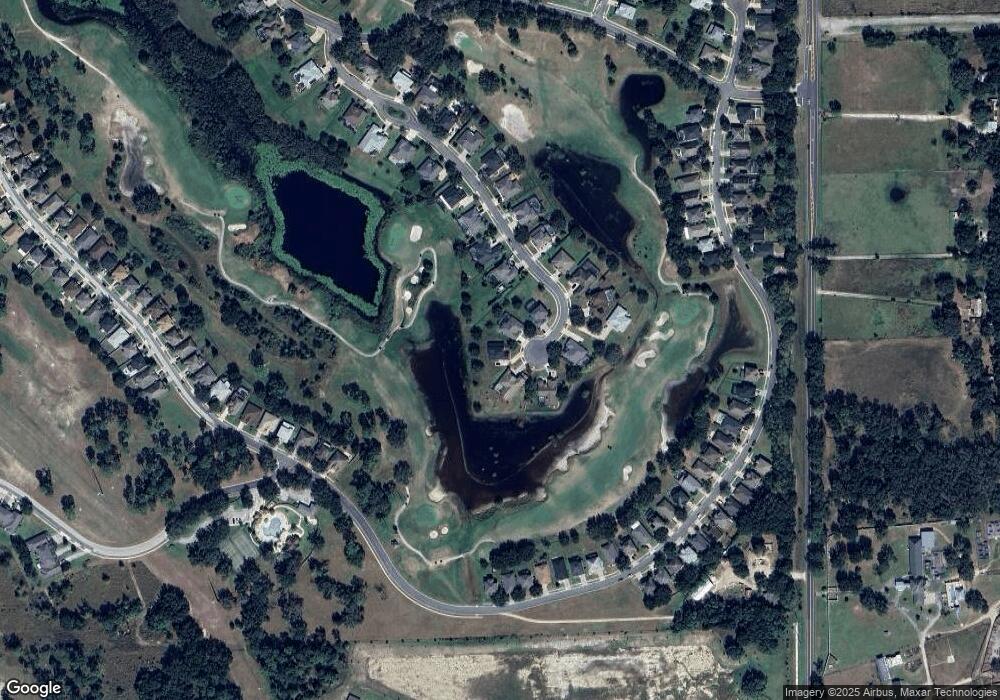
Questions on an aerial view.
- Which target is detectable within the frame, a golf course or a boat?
golf course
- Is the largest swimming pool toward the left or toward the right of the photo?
left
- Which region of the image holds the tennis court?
bottom left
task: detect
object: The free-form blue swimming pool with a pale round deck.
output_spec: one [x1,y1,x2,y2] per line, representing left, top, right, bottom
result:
[256,512,290,553]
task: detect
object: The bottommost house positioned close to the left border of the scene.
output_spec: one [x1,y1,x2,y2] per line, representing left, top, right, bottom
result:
[25,535,60,565]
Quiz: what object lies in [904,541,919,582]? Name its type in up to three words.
barn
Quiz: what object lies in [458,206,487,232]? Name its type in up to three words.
house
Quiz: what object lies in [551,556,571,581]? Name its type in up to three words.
house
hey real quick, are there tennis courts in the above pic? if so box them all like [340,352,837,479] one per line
[215,528,262,574]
